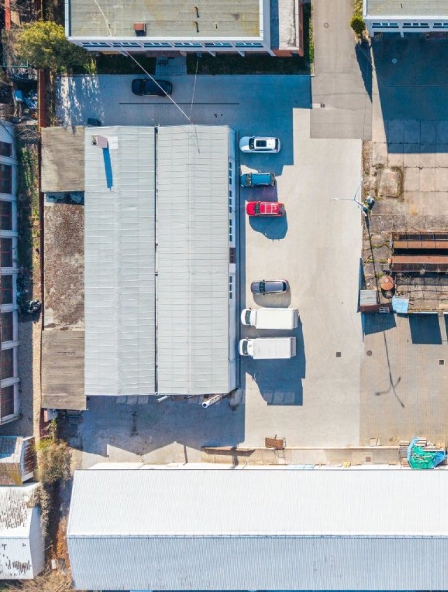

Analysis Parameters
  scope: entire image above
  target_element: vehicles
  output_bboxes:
[243,308,300,330]
[242,136,280,153]
[247,200,286,218]
[242,336,298,358]
[133,78,173,97]
[253,279,290,296]
[242,171,276,188]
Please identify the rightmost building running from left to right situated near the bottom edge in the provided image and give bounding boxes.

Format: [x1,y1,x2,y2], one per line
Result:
[69,461,448,591]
